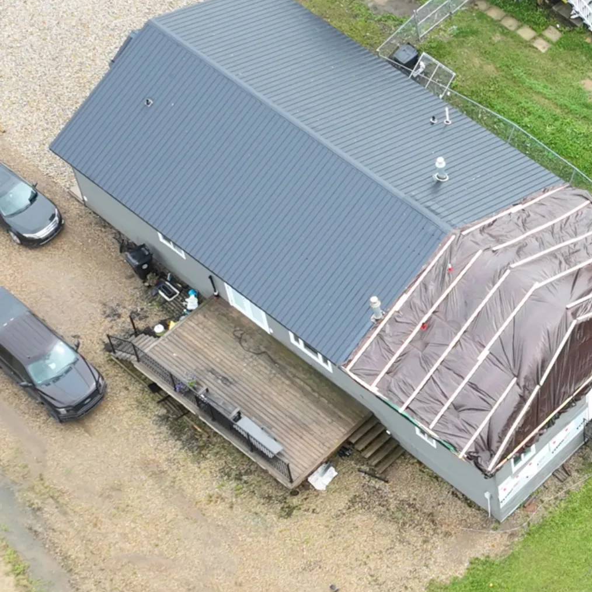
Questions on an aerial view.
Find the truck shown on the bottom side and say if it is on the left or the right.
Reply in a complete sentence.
The truck shown on the bottom side appears in the left half of the scene.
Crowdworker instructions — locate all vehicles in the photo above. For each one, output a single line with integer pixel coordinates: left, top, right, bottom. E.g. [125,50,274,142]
[0,162,65,253]
[0,290,110,424]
